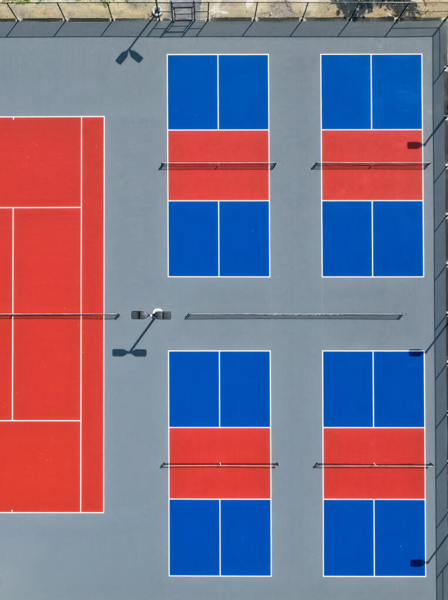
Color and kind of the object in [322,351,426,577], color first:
blue sports court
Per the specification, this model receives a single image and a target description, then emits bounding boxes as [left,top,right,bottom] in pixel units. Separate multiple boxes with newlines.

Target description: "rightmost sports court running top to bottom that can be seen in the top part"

[320,54,424,277]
